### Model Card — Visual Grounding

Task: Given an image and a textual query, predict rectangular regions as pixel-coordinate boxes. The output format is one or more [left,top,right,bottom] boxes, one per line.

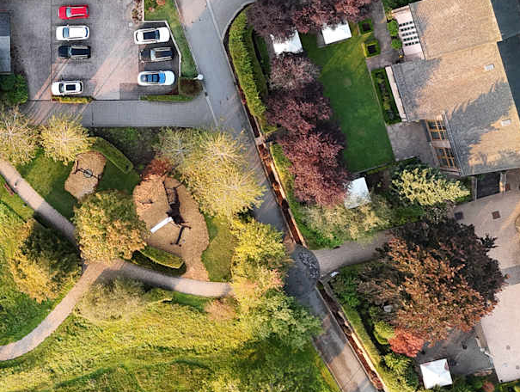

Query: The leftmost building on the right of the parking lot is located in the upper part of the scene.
[265,29,303,58]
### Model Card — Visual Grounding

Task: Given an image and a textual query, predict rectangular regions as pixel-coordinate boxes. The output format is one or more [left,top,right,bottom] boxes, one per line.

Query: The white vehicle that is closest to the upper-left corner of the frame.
[56,25,89,41]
